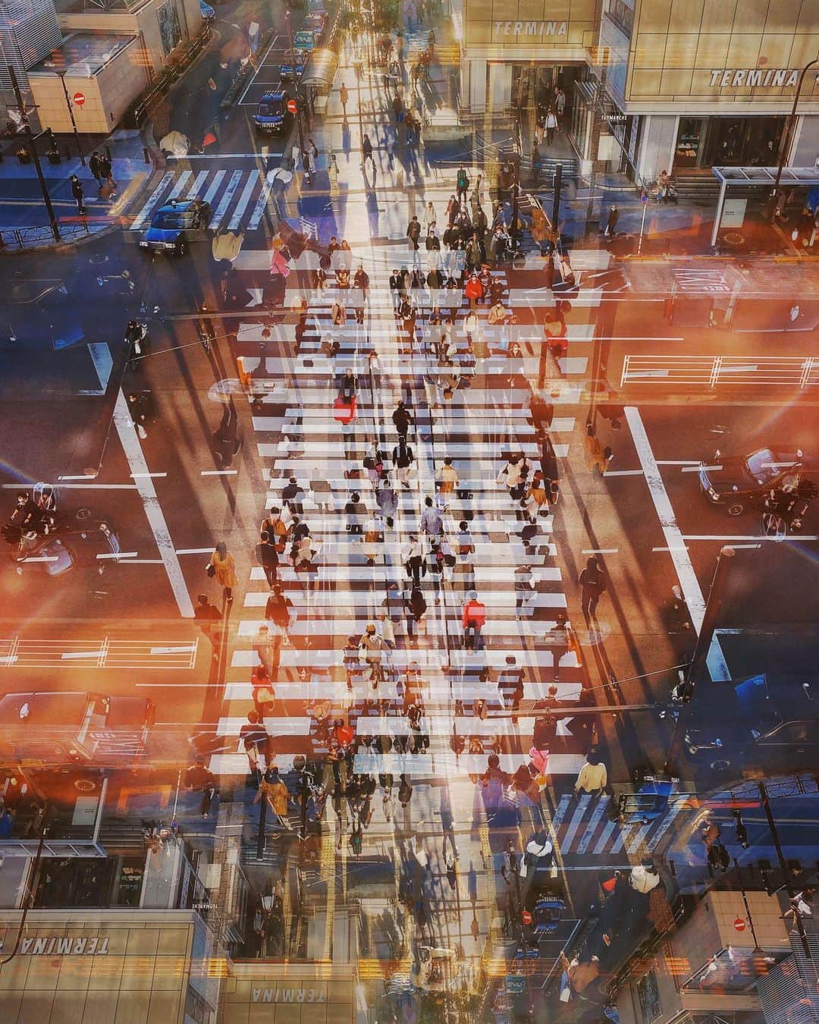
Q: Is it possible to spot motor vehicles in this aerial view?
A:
Yes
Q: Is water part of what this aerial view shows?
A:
No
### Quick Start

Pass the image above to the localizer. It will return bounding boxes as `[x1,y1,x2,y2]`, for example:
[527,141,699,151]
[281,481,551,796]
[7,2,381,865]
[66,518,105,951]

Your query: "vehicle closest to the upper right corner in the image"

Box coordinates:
[673,239,819,327]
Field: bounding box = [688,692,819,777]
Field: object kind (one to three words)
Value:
car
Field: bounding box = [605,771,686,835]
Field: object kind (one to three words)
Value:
car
